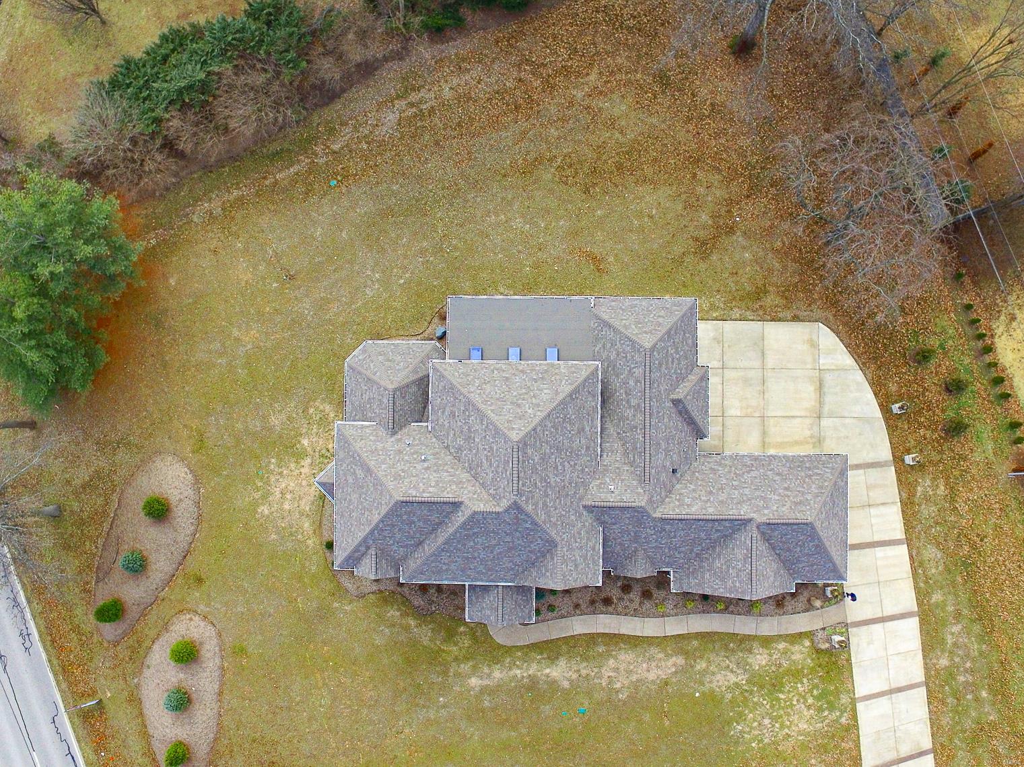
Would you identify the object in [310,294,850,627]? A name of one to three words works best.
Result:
house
